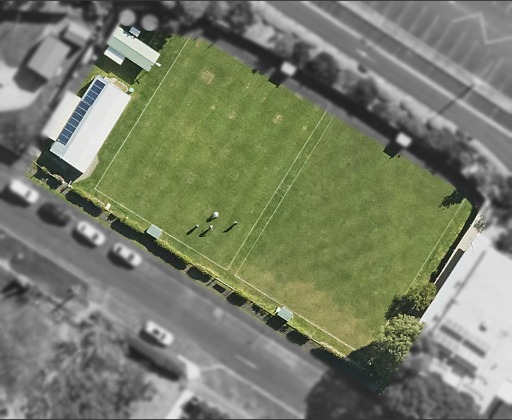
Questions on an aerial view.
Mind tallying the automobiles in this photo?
5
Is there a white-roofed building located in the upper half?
Yes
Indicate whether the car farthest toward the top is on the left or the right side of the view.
left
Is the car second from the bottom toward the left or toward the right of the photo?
left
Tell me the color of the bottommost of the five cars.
white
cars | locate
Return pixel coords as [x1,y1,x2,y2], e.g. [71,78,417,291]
[112,243,142,266]
[74,221,106,246]
[8,178,40,205]
[40,200,68,224]
[144,320,174,344]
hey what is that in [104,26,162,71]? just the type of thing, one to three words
building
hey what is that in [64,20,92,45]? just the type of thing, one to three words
building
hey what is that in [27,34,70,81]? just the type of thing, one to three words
house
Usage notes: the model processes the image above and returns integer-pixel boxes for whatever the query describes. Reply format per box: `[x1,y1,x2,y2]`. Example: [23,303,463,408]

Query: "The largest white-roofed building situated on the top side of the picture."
[42,76,132,174]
